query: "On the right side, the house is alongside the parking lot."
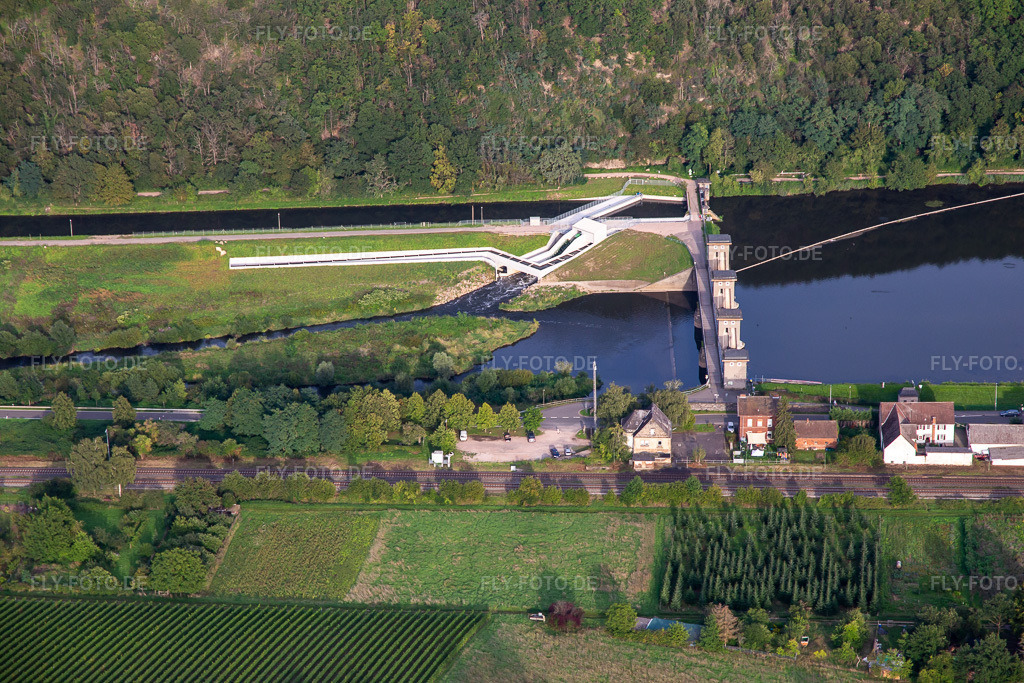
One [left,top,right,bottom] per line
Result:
[620,402,674,470]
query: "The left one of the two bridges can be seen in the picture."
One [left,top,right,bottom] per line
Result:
[550,196,642,234]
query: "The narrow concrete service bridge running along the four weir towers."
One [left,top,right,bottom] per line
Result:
[693,247,722,387]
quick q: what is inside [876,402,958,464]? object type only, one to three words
house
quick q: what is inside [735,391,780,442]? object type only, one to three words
house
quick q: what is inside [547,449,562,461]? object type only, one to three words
vehicle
